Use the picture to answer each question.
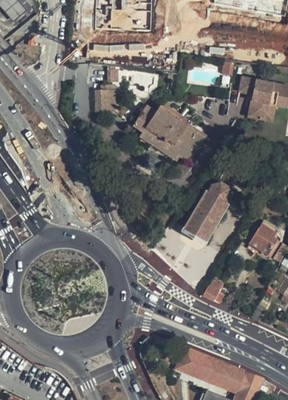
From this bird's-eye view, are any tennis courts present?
No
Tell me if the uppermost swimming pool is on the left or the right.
right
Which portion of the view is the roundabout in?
bottom left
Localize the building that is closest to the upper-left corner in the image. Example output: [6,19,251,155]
[0,0,27,22]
